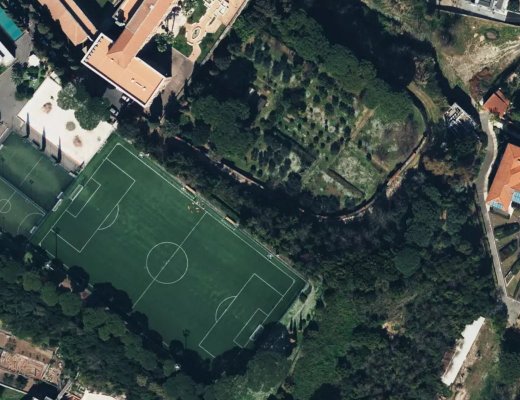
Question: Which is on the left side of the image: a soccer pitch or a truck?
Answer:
soccer pitch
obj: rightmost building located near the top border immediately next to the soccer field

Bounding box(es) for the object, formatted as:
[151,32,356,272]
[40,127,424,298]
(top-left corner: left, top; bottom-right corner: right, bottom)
[82,0,186,107]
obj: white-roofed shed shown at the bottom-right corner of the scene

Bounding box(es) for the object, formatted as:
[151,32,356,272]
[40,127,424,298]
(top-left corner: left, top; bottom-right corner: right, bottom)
[438,316,486,386]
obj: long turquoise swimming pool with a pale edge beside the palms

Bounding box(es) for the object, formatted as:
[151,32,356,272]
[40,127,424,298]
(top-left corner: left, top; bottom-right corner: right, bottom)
[0,7,23,41]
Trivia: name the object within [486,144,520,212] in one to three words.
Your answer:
house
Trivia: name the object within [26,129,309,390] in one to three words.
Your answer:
soccer field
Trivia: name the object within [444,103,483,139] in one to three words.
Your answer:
building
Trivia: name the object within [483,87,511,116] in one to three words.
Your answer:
house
